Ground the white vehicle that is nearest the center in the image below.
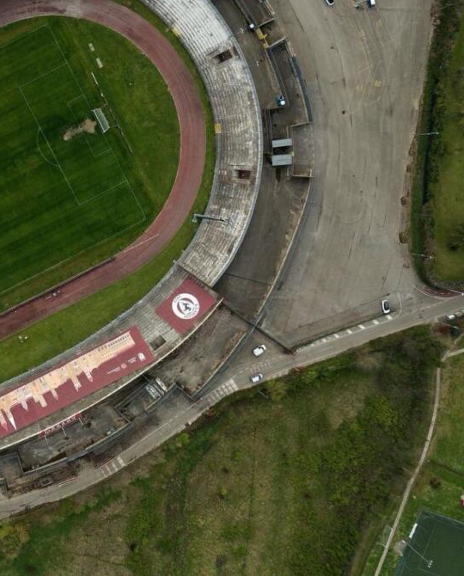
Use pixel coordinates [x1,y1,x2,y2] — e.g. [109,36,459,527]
[253,345,267,357]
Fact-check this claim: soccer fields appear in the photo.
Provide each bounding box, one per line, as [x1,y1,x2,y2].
[398,511,464,576]
[0,20,152,298]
